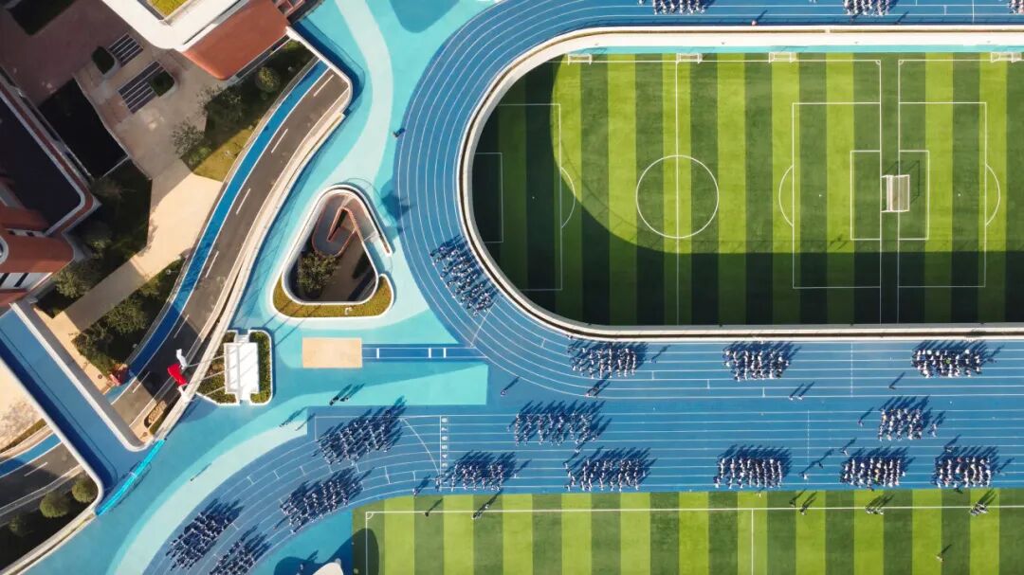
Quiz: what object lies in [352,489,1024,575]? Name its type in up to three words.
sports field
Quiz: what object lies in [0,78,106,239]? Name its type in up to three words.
building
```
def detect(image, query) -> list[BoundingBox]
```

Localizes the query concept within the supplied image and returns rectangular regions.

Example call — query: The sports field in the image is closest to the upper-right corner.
[881,54,1024,327]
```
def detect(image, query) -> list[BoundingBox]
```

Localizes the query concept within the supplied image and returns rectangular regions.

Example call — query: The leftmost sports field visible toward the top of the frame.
[472,54,881,328]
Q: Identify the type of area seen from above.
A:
sports ground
